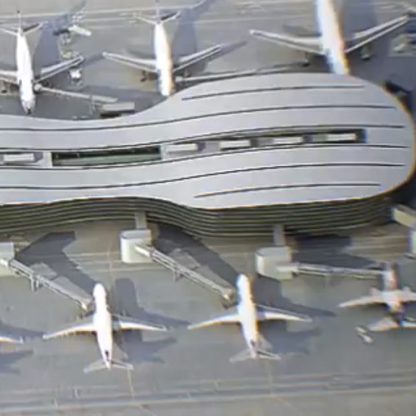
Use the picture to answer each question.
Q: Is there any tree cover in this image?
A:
No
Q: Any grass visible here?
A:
No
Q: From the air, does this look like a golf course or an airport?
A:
airport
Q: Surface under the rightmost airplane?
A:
apron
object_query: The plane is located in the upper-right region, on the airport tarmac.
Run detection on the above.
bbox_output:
[255,0,410,76]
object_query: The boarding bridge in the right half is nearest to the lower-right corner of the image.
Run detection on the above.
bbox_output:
[279,258,388,290]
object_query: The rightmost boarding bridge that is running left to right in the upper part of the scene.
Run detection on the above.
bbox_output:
[172,60,302,85]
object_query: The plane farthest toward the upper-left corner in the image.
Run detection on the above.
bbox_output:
[0,13,83,113]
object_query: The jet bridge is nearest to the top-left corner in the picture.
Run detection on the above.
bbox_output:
[32,81,116,111]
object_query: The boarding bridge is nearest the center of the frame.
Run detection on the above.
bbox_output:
[139,240,238,302]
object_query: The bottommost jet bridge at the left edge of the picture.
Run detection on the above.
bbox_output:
[2,254,95,312]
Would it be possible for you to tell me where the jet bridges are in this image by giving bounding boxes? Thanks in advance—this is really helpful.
[172,60,302,85]
[32,81,116,111]
[139,240,238,302]
[279,258,388,290]
[2,254,95,312]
